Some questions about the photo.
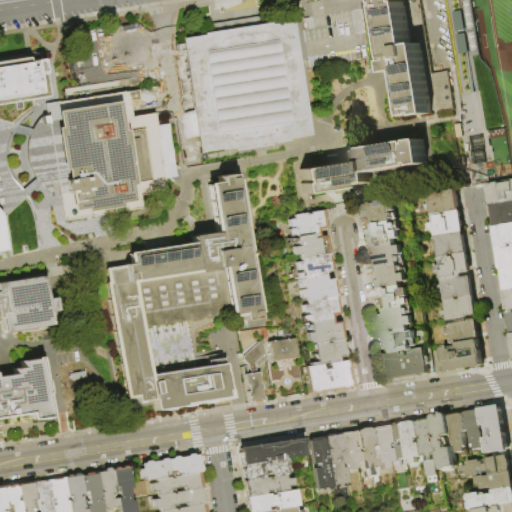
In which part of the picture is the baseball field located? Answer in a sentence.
The baseball field sits in the top right section of the image.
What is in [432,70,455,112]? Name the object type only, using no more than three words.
building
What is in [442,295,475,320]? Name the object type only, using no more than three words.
building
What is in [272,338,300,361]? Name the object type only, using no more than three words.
house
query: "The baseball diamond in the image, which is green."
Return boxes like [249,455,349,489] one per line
[475,0,512,128]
